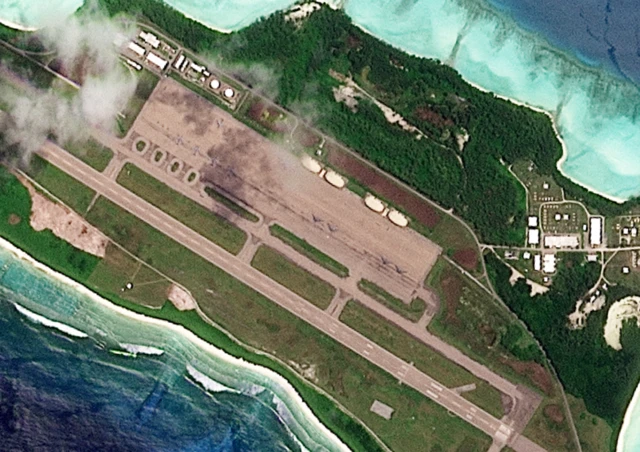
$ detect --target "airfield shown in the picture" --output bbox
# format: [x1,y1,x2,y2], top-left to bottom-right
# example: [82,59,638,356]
[0,67,549,452]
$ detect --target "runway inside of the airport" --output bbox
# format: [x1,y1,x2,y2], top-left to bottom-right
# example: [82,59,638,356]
[0,111,524,449]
